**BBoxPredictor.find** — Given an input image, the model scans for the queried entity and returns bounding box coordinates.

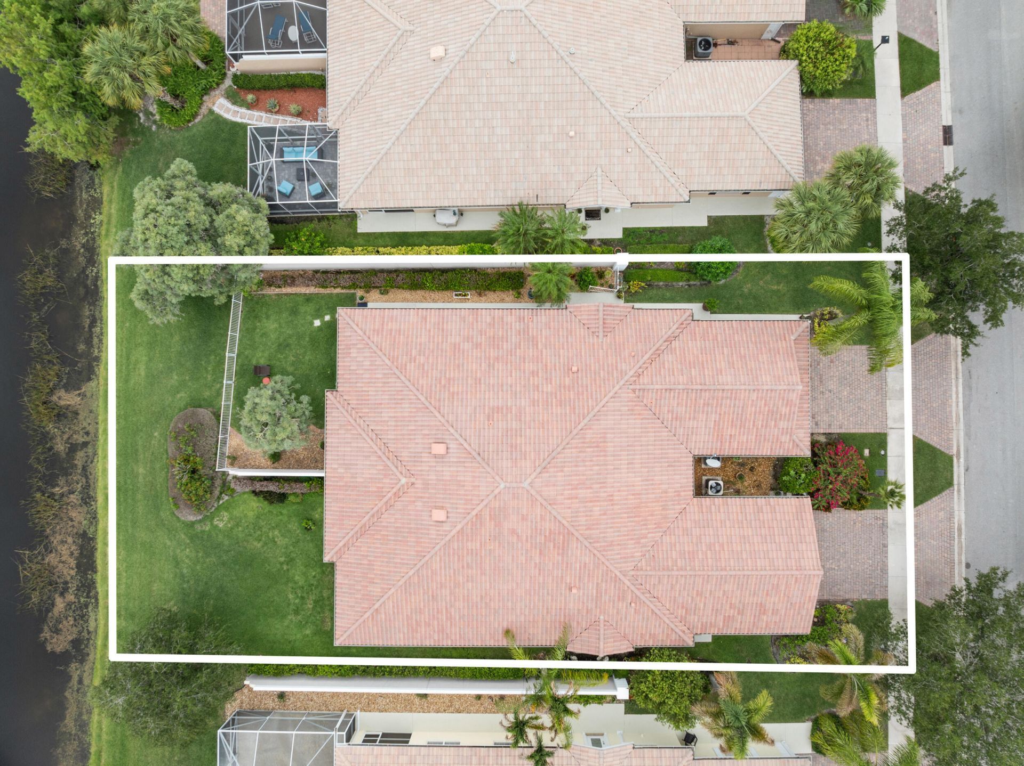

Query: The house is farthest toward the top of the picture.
[324,0,807,217]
